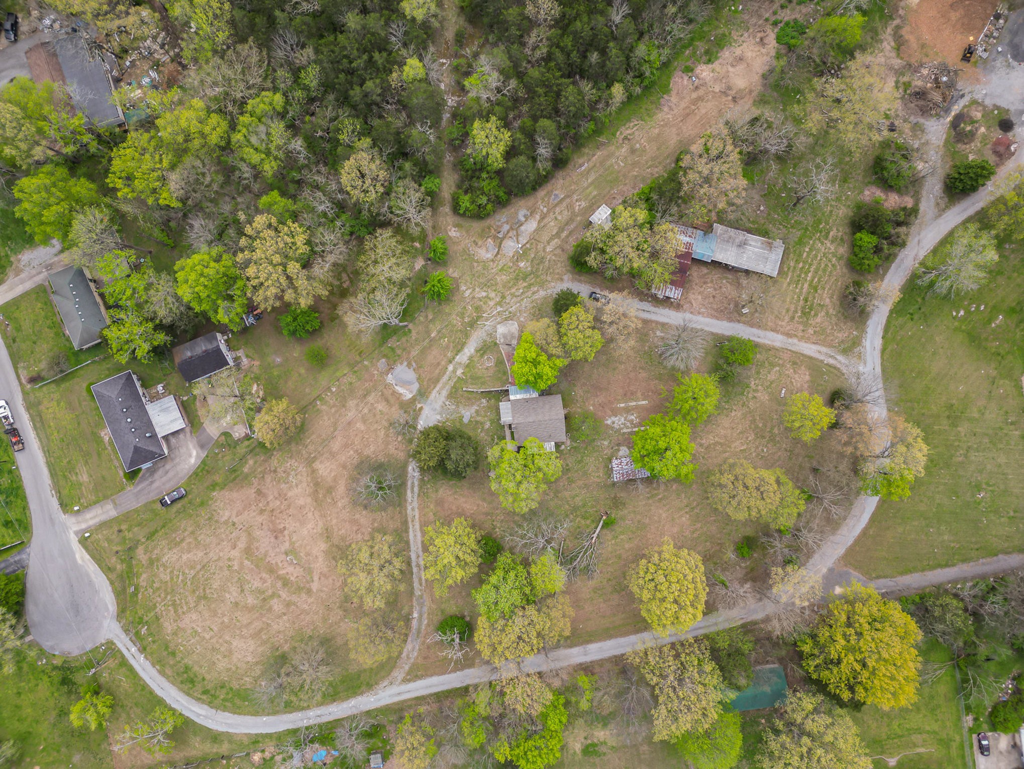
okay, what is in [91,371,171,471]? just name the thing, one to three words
house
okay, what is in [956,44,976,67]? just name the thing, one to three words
work vehicle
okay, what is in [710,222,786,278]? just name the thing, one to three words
barn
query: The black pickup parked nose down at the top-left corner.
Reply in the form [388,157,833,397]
[3,13,19,44]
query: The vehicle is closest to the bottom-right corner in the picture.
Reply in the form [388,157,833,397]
[975,732,989,755]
